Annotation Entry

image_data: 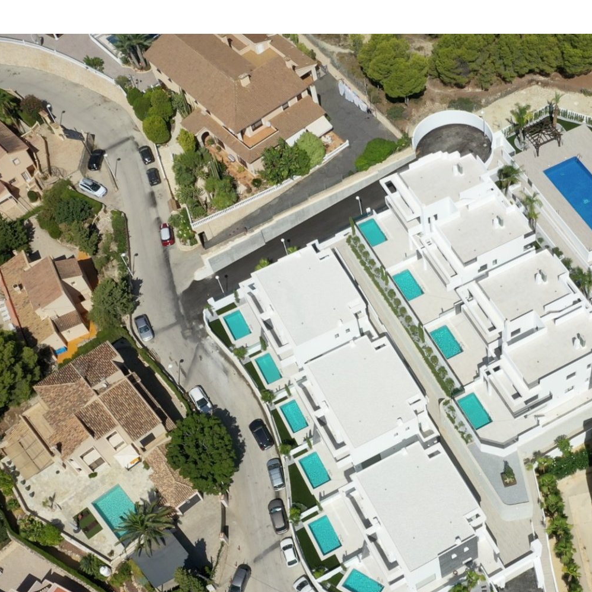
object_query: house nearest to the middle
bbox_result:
[238,240,369,373]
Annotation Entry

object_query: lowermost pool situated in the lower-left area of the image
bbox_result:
[87,483,146,544]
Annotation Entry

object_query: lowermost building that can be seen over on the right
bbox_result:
[341,442,485,592]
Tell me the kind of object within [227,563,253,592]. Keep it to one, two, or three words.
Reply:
car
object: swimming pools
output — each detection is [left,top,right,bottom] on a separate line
[220,307,254,343]
[277,397,312,436]
[427,323,466,362]
[356,216,391,249]
[339,568,387,592]
[455,389,495,433]
[251,351,285,387]
[542,155,592,231]
[305,512,345,559]
[296,450,334,492]
[392,268,427,303]
[87,483,146,544]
